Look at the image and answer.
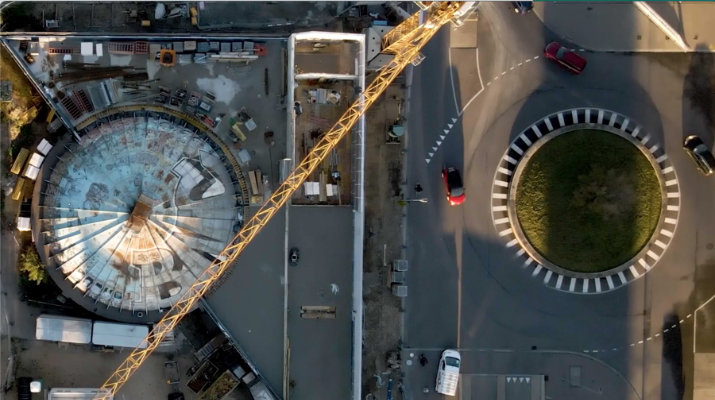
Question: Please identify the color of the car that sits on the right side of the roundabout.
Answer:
black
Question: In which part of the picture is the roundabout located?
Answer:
right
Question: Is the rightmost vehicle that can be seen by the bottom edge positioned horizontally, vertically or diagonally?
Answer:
vertically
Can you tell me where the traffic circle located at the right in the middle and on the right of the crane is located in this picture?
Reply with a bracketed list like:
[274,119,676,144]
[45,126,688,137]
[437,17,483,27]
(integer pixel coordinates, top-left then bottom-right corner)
[492,107,680,295]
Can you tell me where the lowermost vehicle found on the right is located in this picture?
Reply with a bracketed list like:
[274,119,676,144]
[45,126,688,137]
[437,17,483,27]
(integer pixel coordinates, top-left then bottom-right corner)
[434,348,462,398]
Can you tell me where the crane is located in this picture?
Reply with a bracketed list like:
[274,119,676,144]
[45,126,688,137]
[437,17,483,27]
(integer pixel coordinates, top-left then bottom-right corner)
[84,0,471,400]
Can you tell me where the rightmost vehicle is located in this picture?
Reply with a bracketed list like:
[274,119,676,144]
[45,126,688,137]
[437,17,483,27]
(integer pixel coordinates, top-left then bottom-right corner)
[682,134,715,175]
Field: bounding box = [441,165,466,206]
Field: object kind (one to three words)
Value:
car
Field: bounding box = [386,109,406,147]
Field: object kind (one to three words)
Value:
work vehicle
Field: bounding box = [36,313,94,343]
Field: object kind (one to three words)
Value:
building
